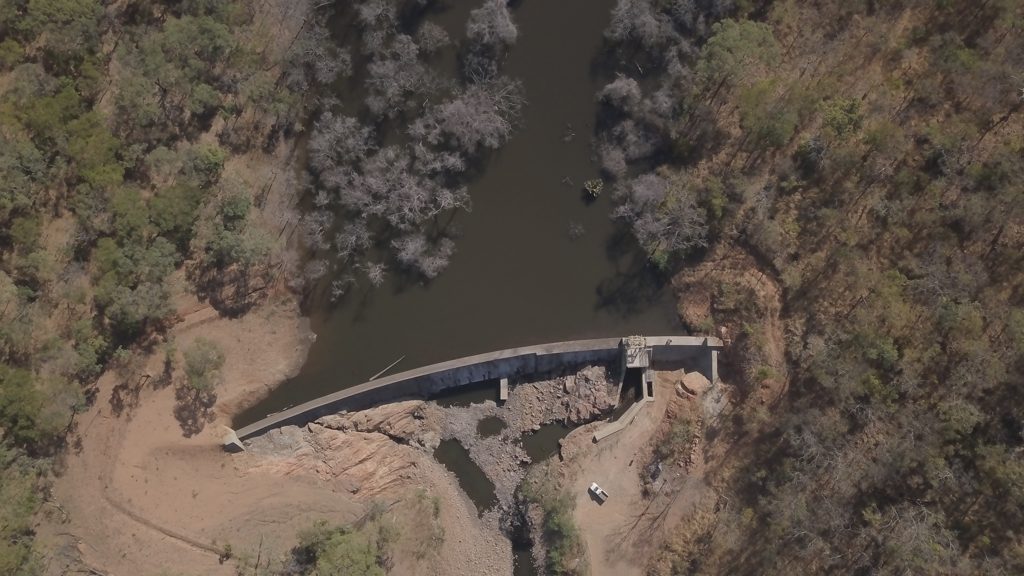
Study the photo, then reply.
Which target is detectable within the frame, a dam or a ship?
dam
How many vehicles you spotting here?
1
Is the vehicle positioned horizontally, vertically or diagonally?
diagonally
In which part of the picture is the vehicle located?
bottom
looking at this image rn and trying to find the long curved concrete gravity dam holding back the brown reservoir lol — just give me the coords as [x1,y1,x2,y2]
[222,335,724,452]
